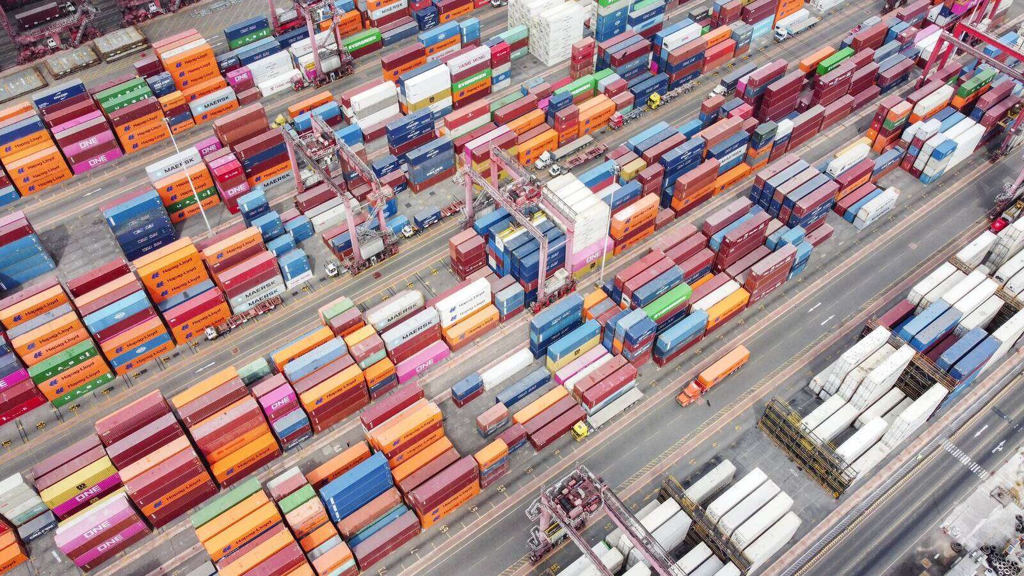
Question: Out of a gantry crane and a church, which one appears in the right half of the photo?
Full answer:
Visible in the right half of the photo is a gantry crane.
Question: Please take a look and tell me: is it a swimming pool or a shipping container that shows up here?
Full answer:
Of the two, only a shipping container appears.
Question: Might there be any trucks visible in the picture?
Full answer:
Yes, you can see a truck in this photo.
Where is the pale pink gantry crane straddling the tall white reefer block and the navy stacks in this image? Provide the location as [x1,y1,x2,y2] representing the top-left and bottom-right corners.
[453,140,588,309]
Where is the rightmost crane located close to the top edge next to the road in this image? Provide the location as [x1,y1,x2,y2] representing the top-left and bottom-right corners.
[903,16,1024,156]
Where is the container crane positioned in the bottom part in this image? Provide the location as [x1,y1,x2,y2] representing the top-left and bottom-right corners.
[525,459,696,576]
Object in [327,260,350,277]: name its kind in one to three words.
vehicle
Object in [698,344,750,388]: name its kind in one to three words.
shipping container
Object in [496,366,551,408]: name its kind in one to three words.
shipping container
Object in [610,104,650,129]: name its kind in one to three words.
truck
